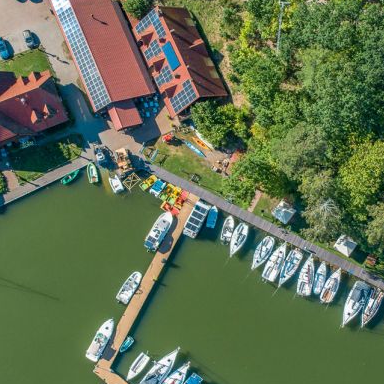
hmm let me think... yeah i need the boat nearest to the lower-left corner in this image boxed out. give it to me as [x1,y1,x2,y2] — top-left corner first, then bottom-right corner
[86,319,114,365]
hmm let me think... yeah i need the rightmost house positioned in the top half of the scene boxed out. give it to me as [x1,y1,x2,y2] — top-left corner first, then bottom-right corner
[133,7,227,118]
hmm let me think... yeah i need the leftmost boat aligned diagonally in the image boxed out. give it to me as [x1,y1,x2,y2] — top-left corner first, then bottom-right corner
[61,172,79,185]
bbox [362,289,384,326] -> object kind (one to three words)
boat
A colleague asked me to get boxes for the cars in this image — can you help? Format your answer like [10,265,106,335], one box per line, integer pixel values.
[0,35,9,58]
[20,27,37,48]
